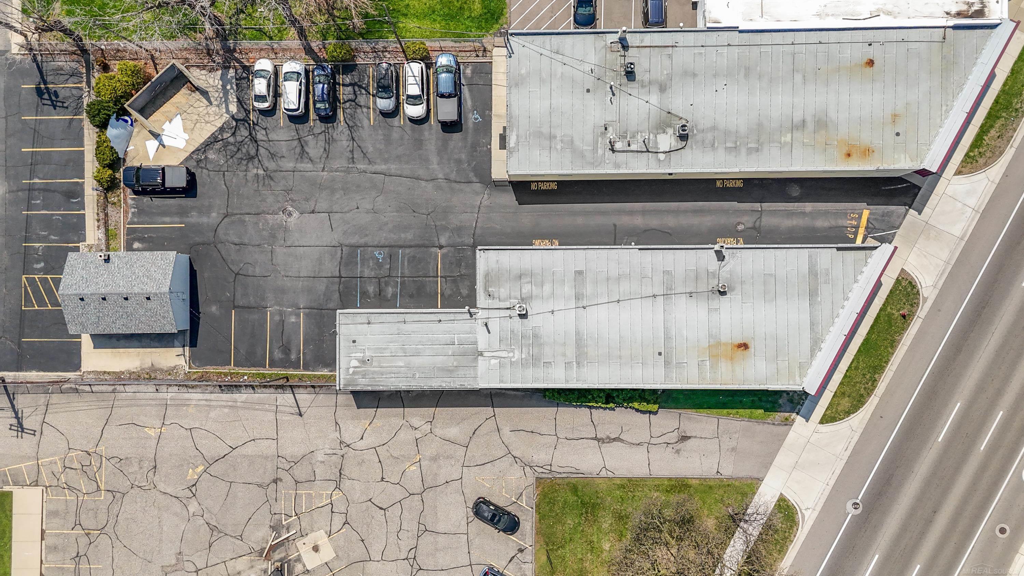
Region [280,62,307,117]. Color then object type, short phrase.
white car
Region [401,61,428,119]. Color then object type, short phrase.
white car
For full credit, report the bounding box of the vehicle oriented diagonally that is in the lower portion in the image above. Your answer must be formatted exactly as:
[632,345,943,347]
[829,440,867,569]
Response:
[469,494,521,535]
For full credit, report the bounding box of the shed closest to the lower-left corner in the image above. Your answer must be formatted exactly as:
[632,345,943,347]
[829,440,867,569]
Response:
[58,251,189,335]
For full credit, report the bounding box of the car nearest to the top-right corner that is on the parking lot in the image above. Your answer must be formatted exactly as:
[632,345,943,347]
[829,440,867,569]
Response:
[641,0,666,28]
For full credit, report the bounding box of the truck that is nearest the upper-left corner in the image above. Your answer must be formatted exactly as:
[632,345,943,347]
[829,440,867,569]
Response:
[124,165,193,192]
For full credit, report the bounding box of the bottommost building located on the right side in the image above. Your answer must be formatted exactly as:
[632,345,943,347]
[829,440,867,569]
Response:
[337,242,897,396]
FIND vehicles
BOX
[434,57,460,125]
[124,165,193,192]
[477,564,508,576]
[311,64,336,119]
[373,60,398,114]
[573,0,597,28]
[401,61,428,119]
[251,58,278,112]
[469,494,521,535]
[280,62,307,117]
[641,0,666,28]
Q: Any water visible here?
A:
No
